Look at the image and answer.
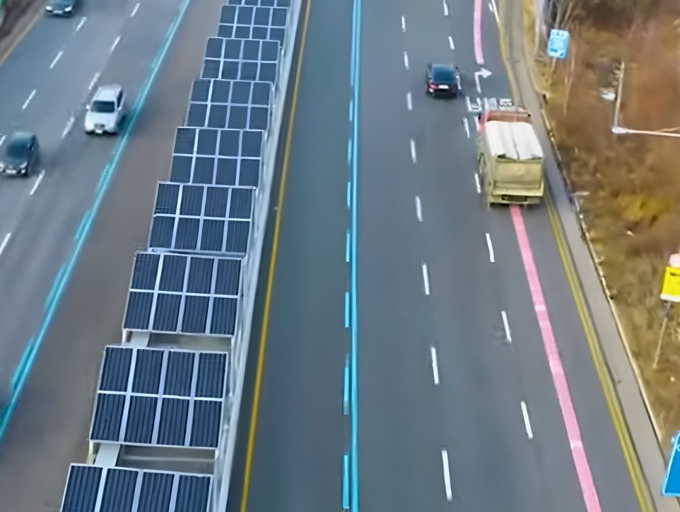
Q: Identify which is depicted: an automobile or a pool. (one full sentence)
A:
Visible in the photo is an automobile.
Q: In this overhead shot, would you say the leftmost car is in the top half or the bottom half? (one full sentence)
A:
The top half of the photo is where the leftmost car is.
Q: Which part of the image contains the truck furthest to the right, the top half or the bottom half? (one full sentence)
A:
The top half of the photo is where the truck furthest to the right is.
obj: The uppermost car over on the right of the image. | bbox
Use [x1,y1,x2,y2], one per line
[423,65,458,97]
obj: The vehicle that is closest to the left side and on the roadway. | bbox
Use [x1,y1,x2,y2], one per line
[0,134,43,178]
